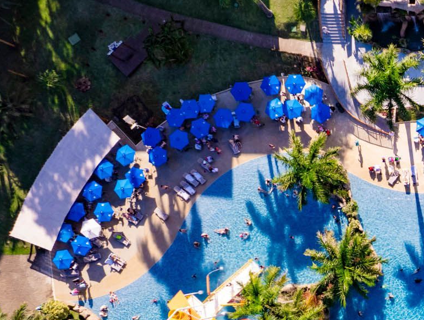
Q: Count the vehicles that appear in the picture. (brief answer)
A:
0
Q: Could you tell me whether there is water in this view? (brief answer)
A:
Yes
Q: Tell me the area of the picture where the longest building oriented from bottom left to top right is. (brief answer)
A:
left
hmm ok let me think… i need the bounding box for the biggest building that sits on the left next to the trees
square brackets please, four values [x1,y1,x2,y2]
[8,108,125,250]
